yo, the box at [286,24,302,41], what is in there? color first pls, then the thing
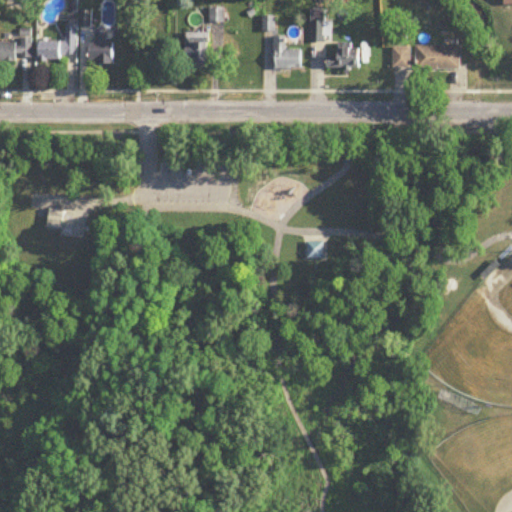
blue swimming pool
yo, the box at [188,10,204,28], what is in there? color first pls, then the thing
green swimming pool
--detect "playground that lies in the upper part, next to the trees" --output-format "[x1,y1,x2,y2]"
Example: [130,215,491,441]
[251,178,309,221]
